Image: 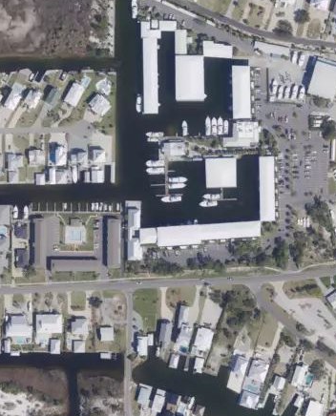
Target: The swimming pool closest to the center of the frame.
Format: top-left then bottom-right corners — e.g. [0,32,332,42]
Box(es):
[65,226,86,245]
